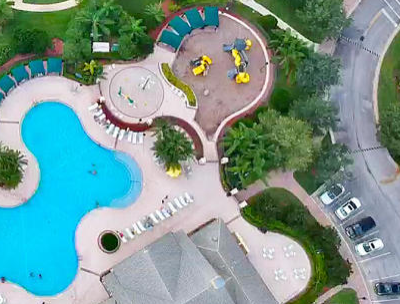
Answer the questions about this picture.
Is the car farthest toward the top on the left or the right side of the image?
right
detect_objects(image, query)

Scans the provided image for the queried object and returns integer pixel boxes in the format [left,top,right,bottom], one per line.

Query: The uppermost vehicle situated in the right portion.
[320,181,348,205]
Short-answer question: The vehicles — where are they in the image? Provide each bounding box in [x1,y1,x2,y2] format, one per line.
[357,237,388,258]
[347,214,381,241]
[377,281,400,295]
[320,181,348,205]
[336,195,363,219]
